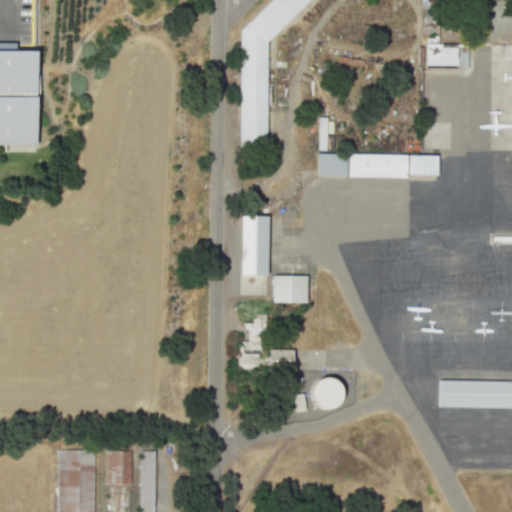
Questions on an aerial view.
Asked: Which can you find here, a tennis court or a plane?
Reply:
plane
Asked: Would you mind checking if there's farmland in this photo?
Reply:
Yes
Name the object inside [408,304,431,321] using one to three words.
airplane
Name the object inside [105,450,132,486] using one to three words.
barn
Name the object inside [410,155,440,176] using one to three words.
hangar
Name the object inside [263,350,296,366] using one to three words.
house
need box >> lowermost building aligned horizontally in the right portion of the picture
[438,380,512,408]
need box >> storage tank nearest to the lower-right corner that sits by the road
[312,378,346,411]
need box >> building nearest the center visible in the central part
[242,216,270,274]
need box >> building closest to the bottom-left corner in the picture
[58,450,96,512]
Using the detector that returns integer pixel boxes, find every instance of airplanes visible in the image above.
[492,306,512,324]
[480,107,512,130]
[474,320,494,336]
[408,304,431,321]
[422,320,444,336]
